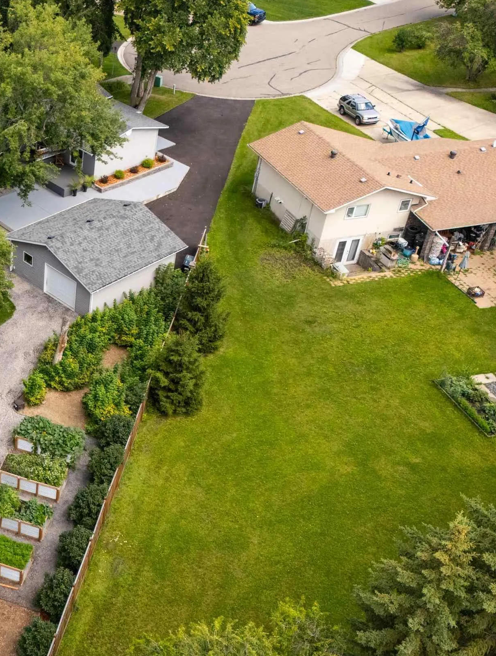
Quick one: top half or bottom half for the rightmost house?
top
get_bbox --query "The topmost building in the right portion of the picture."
[247,122,496,265]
